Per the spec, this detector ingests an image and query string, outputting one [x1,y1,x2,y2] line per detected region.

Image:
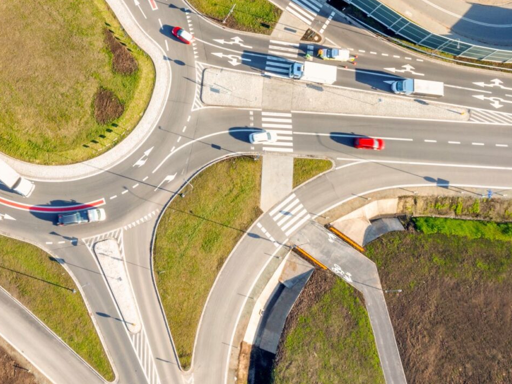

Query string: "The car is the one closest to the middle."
[248,130,278,144]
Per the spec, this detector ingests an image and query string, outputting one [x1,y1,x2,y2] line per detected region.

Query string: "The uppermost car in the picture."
[171,26,194,46]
